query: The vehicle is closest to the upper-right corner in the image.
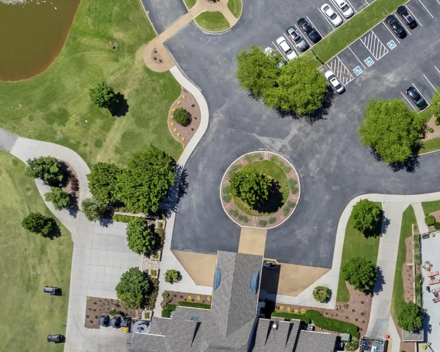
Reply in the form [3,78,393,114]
[397,5,418,31]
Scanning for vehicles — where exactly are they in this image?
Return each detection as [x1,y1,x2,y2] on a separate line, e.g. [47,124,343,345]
[45,287,61,294]
[49,333,65,342]
[121,316,131,328]
[333,0,353,19]
[276,36,298,61]
[406,85,427,110]
[263,45,284,71]
[320,2,342,28]
[110,315,122,327]
[99,314,111,326]
[299,17,320,43]
[286,27,308,52]
[385,14,407,39]
[326,70,346,95]
[397,5,418,31]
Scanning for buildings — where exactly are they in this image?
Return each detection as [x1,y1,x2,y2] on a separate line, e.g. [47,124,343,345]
[129,251,350,352]
[402,323,424,341]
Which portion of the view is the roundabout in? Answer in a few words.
center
